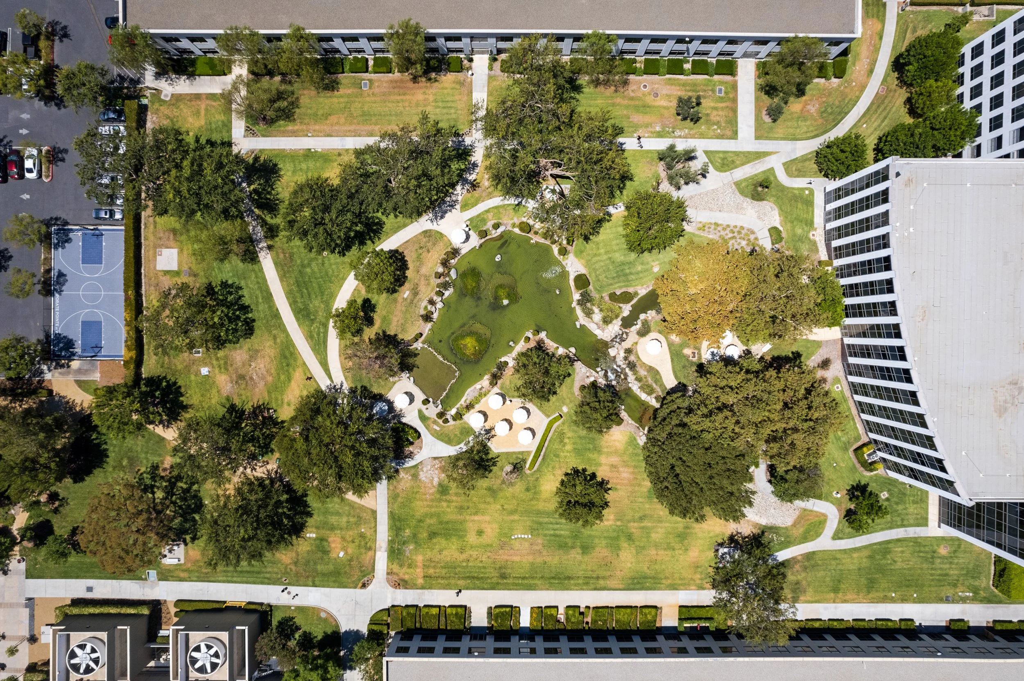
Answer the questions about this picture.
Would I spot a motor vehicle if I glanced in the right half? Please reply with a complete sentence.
No, there is no motor vehicle in the right half.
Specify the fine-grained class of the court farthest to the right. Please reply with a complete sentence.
The court farthest to the right appears to be a basketball court.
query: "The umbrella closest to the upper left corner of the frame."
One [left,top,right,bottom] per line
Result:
[450,228,467,244]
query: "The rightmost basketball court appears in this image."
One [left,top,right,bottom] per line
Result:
[52,226,126,360]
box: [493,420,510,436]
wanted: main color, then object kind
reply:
white umbrella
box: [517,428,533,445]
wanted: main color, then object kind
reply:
white umbrella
